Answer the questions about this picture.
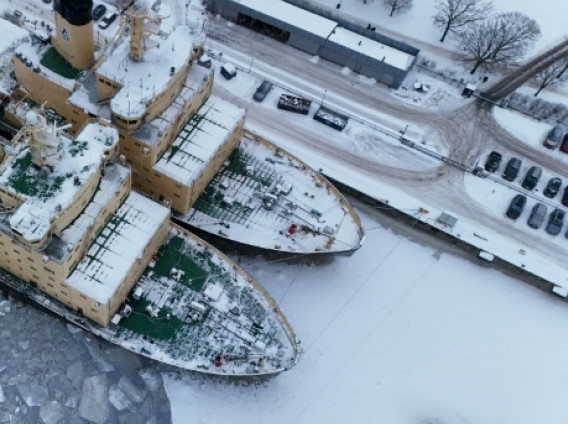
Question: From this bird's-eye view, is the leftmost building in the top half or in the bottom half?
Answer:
top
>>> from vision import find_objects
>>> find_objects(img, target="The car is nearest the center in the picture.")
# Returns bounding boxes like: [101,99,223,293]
[252,82,272,102]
